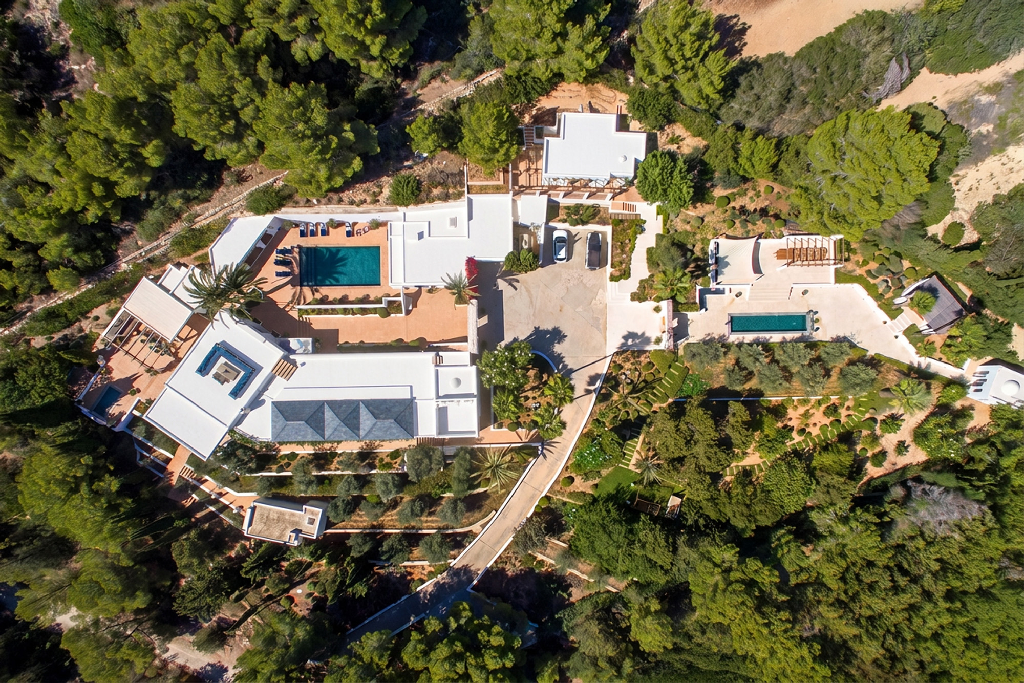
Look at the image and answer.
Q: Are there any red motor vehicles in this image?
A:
No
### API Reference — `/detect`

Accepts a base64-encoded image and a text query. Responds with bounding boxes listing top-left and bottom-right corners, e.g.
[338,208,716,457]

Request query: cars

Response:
[585,231,603,271]
[553,230,569,263]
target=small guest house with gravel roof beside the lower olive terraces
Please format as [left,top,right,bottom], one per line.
[243,496,329,545]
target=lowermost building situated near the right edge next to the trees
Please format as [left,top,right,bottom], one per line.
[958,361,1024,420]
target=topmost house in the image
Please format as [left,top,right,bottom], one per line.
[542,113,646,186]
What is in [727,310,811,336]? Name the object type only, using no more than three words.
swimming pool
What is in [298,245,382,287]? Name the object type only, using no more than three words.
swimming pool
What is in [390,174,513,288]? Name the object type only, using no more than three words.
building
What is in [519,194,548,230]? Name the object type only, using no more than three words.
shed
